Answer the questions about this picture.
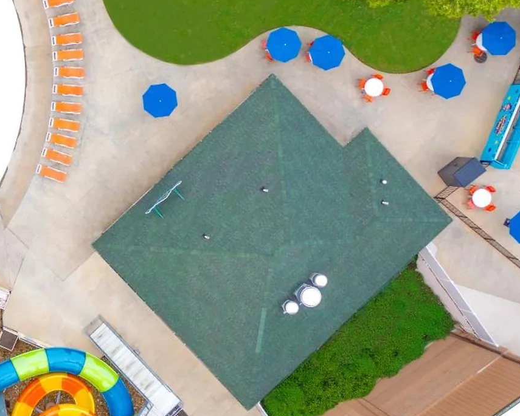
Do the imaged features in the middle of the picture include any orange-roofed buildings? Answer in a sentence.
No, looking in the middle of the picture, there is no orange-roofed building.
